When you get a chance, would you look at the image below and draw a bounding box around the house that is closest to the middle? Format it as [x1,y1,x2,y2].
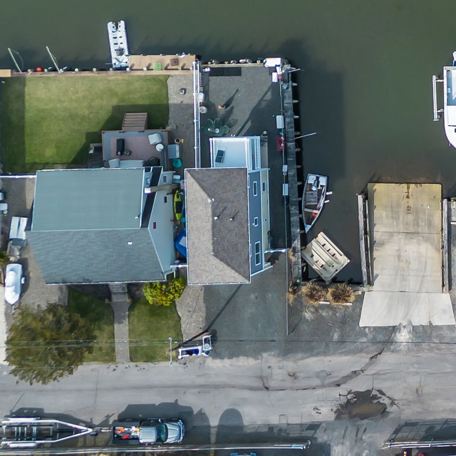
[185,137,285,286]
